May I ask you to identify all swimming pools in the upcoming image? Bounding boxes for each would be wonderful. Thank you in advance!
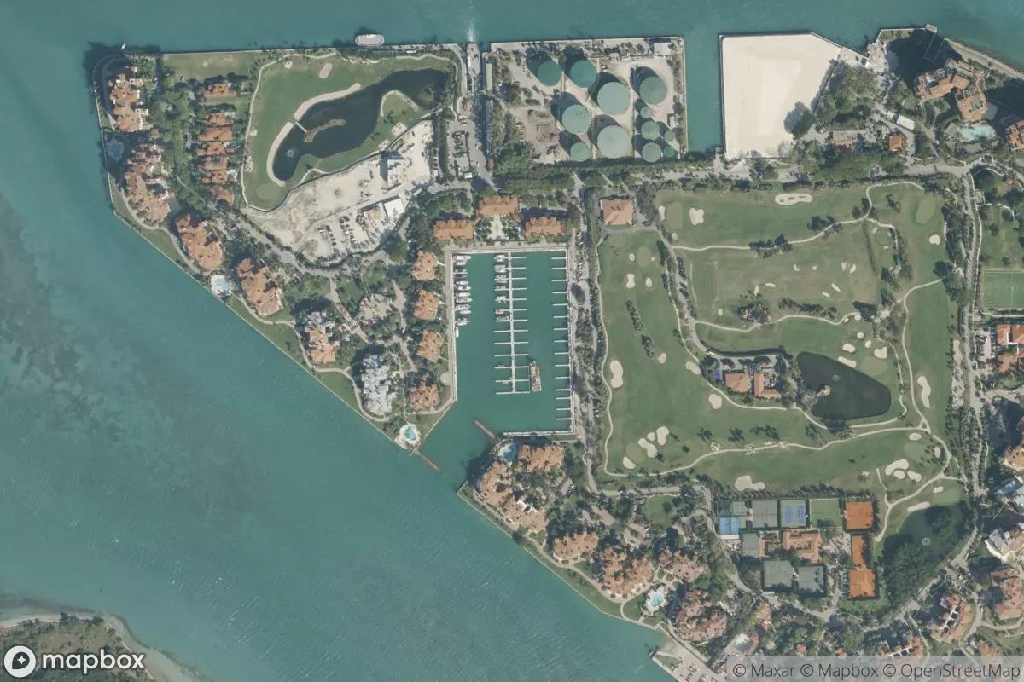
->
[732,633,754,653]
[107,138,123,161]
[396,423,420,451]
[210,272,232,295]
[957,124,997,140]
[498,440,518,465]
[645,585,668,614]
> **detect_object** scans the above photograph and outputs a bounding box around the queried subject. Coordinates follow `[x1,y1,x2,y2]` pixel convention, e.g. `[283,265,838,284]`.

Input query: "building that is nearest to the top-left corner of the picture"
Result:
[107,66,150,134]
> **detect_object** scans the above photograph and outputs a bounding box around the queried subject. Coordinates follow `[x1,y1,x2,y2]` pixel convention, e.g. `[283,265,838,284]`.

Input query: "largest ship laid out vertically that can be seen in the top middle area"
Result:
[467,44,480,78]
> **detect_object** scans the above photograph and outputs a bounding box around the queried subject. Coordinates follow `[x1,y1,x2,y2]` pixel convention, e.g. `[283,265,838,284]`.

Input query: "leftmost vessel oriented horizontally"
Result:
[355,34,384,46]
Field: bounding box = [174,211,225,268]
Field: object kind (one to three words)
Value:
building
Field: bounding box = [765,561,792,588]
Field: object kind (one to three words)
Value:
tennis court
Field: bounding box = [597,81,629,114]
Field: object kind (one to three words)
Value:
storage tank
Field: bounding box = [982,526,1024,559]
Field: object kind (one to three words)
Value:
house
